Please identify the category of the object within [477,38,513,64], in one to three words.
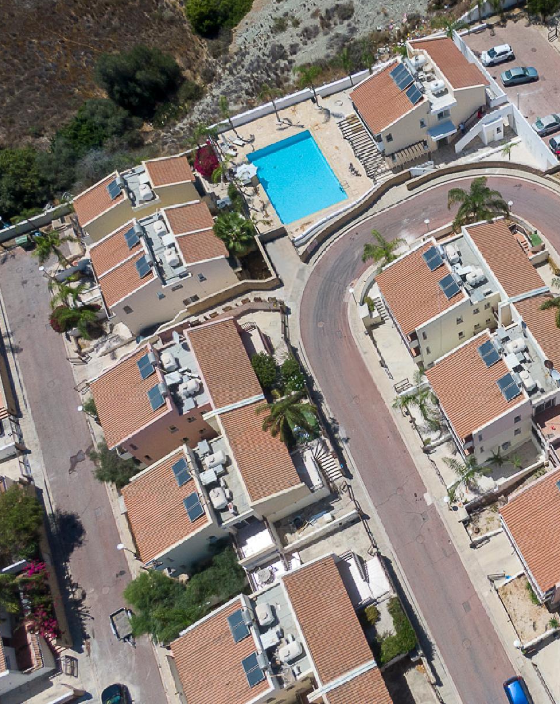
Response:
car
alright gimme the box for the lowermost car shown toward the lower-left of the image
[95,673,126,704]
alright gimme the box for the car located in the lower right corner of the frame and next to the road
[498,661,537,704]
